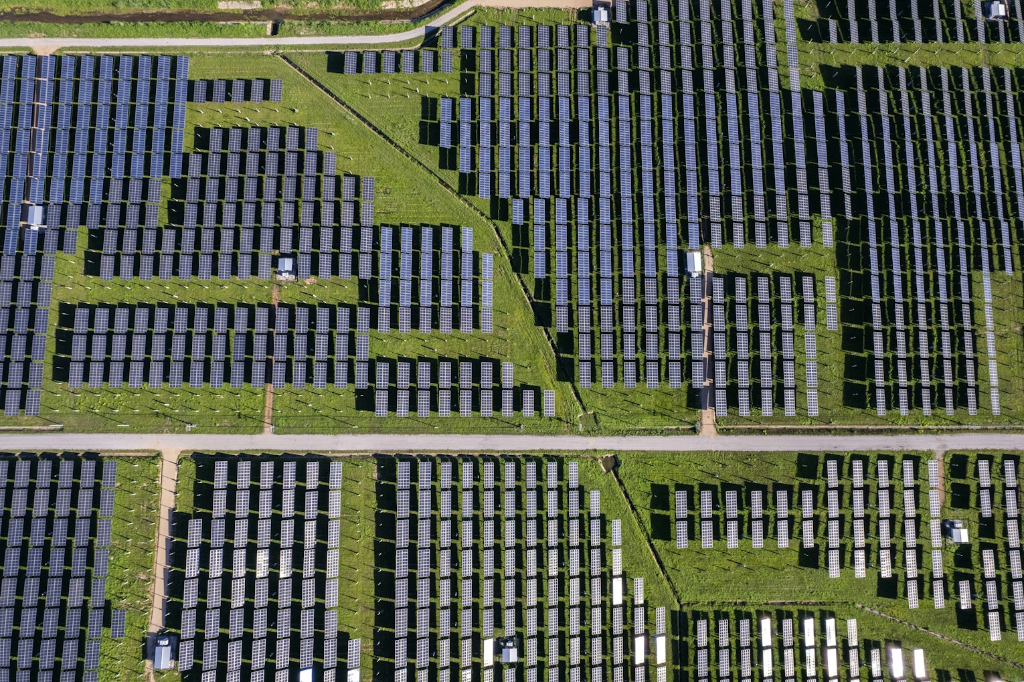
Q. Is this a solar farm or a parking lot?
solar farm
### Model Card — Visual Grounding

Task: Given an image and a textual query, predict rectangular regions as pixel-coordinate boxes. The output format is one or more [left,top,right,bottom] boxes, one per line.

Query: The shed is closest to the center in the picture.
[685,252,701,273]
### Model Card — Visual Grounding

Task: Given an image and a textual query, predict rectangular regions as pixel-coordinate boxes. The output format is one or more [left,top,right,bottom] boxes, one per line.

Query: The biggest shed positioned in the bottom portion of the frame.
[154,643,175,670]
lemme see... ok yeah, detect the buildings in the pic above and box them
[154,643,175,670]
[278,258,294,271]
[593,9,607,25]
[502,645,517,663]
[947,528,968,543]
[985,4,1005,20]
[28,206,45,226]
[685,252,701,273]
